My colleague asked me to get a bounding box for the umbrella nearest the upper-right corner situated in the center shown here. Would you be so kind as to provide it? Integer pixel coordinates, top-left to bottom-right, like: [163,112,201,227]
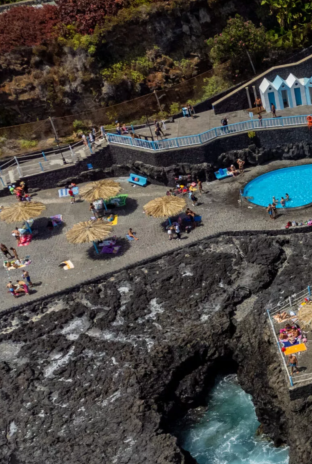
[144,196,182,227]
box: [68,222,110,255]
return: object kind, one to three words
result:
umbrella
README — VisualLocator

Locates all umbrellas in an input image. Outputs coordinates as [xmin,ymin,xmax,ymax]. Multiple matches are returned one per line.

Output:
[1,204,42,235]
[80,181,116,212]
[68,222,110,255]
[144,196,182,227]
[297,302,312,328]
